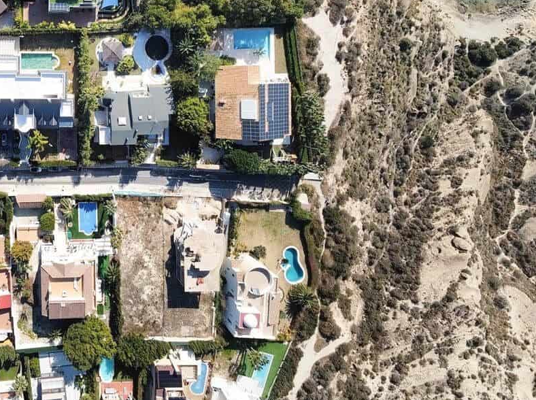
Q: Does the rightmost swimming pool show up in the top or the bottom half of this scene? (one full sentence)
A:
The rightmost swimming pool sits in the bottom half of the picture.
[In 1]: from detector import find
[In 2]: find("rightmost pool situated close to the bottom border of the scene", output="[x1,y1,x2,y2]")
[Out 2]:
[251,351,274,389]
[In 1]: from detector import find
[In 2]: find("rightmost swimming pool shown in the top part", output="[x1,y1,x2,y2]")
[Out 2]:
[233,29,271,61]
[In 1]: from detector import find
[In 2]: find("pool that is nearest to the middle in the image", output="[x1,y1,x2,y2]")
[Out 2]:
[283,245,306,284]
